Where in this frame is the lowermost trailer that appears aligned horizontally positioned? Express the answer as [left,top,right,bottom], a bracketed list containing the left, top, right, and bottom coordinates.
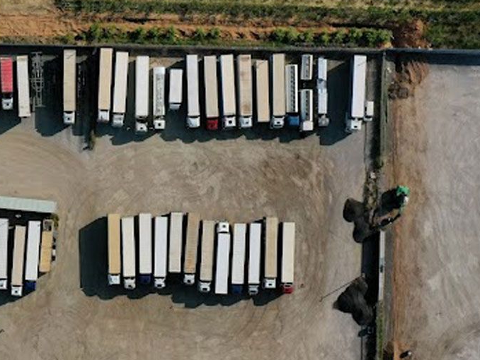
[0,197,55,213]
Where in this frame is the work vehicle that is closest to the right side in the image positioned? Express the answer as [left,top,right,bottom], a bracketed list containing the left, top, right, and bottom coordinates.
[378,181,413,215]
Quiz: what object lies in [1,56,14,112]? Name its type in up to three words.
vehicle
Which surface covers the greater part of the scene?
paved ground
